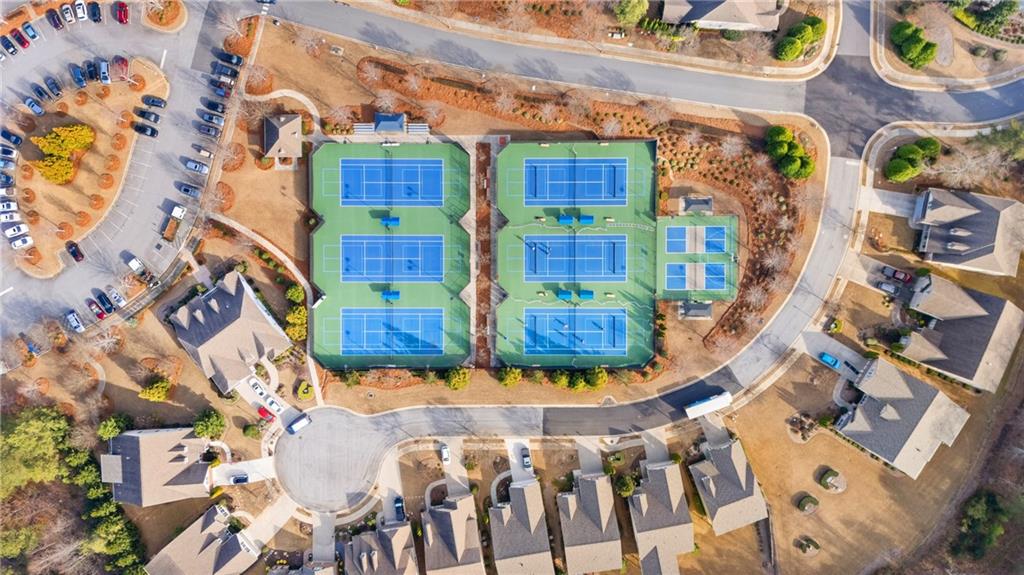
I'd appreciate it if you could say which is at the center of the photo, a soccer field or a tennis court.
tennis court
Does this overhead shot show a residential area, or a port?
residential area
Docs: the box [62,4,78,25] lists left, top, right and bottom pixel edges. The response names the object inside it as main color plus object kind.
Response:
white car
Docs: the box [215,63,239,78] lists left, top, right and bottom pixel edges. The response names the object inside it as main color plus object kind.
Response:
blue vehicle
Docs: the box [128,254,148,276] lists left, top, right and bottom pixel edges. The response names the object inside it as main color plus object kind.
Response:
white vehicle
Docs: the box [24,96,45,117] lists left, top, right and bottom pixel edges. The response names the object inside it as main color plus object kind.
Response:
blue car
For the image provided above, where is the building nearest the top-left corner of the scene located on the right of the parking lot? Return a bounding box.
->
[264,115,304,160]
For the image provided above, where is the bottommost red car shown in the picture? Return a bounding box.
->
[257,405,276,424]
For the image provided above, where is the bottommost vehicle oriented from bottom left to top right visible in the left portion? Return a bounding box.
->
[287,414,313,434]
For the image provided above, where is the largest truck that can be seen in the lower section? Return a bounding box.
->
[677,389,730,418]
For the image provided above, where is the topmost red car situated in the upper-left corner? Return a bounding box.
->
[117,3,130,25]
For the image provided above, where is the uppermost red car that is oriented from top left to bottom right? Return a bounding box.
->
[12,29,31,49]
